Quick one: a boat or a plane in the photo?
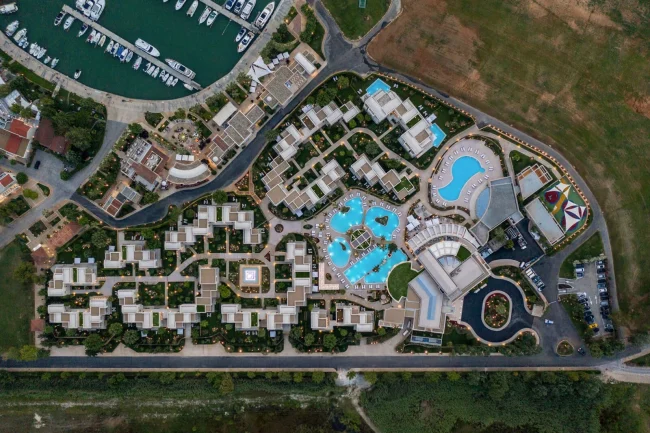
boat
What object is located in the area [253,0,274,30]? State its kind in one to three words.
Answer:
boat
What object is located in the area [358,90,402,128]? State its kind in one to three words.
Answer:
house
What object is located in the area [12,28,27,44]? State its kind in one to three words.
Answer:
boat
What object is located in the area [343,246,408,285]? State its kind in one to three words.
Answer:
swimming pool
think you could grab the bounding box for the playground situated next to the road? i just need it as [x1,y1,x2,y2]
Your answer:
[542,177,588,236]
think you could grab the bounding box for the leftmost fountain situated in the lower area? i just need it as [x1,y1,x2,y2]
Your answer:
[239,265,262,287]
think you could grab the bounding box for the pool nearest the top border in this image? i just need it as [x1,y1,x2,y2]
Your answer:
[366,77,392,97]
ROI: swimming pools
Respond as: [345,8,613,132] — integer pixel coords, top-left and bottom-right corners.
[429,123,446,147]
[366,77,392,97]
[437,155,486,201]
[328,237,351,268]
[343,246,408,285]
[364,206,400,241]
[329,196,364,234]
